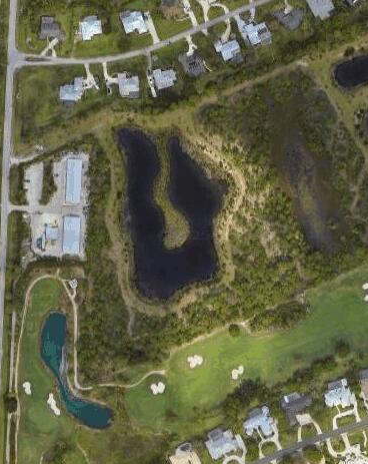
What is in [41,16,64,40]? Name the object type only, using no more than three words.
house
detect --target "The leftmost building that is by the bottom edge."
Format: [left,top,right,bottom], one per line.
[169,443,201,464]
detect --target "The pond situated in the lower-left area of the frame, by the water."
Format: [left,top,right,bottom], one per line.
[41,313,112,427]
